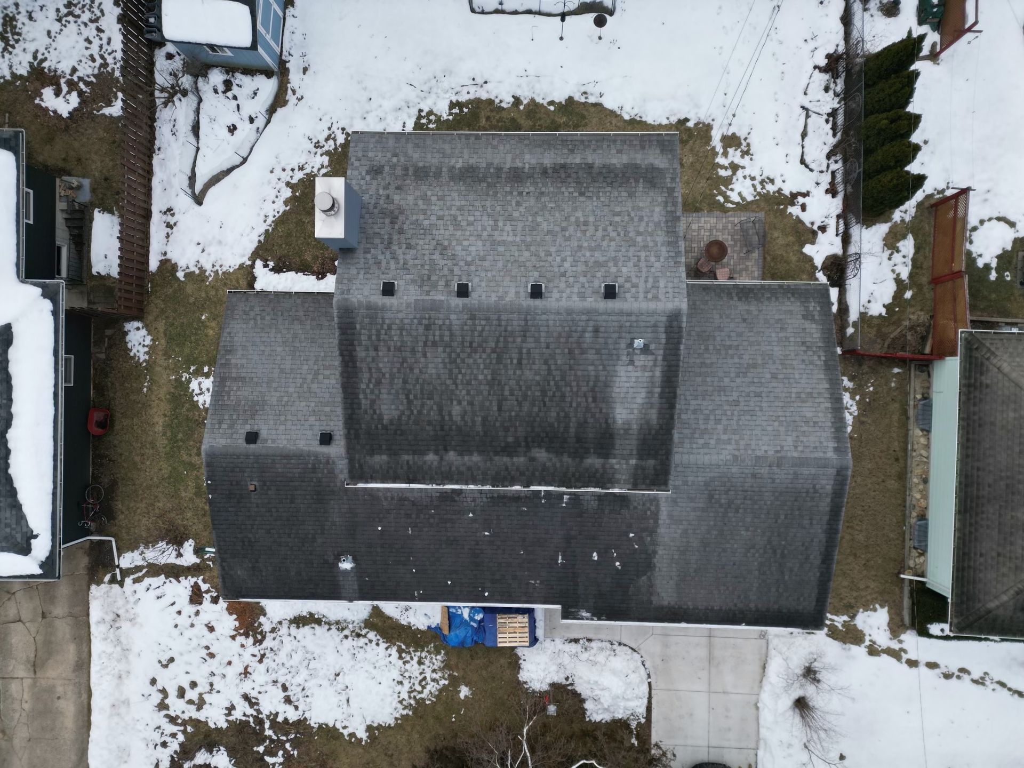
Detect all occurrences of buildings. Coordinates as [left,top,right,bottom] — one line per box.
[903,330,1024,639]
[154,0,279,71]
[0,128,121,581]
[202,131,852,633]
